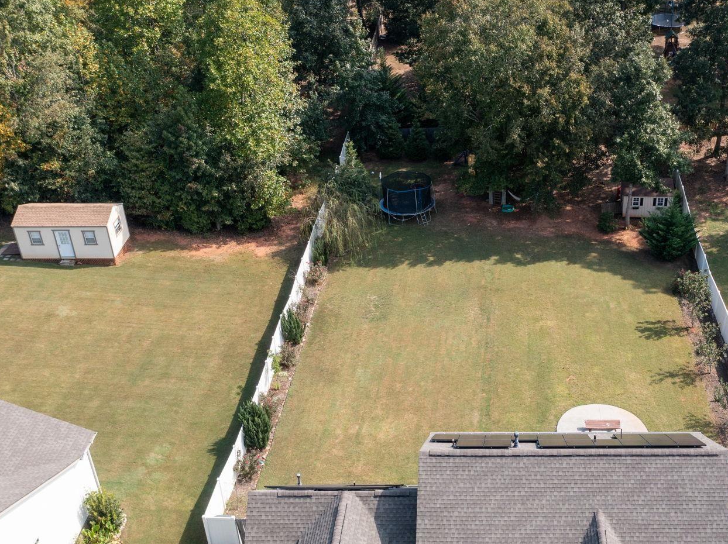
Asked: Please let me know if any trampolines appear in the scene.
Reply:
Yes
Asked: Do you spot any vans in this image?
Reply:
No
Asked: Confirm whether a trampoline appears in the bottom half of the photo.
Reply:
No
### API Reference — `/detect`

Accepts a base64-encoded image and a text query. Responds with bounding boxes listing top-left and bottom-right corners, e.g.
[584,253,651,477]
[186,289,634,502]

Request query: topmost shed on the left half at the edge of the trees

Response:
[9,202,131,263]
